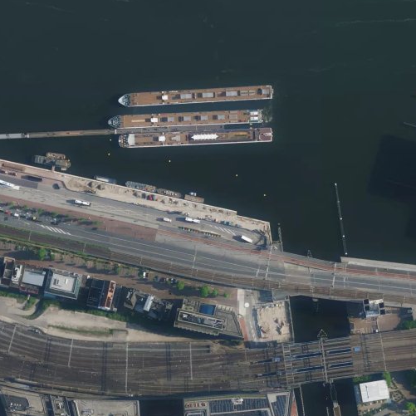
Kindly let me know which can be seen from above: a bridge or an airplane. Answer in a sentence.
It is a bridge that can be seen here.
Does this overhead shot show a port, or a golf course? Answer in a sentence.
This looks like a port.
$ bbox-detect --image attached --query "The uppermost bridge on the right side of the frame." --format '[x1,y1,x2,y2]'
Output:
[283,250,349,302]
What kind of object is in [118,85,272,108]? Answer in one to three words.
ship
